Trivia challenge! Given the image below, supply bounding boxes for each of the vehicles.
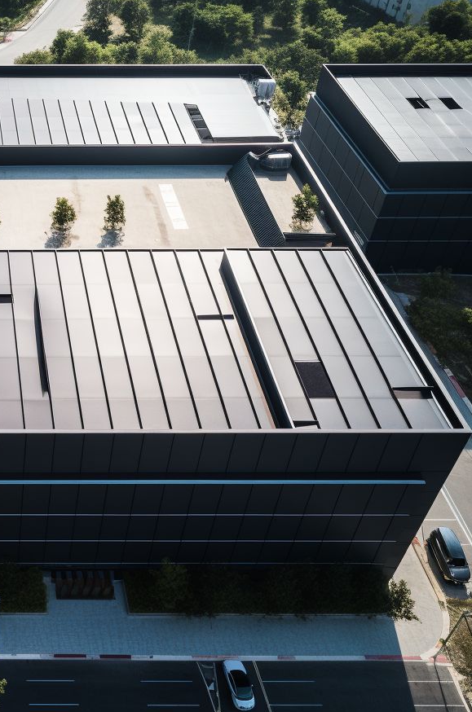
[420,531,470,588]
[218,661,257,712]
